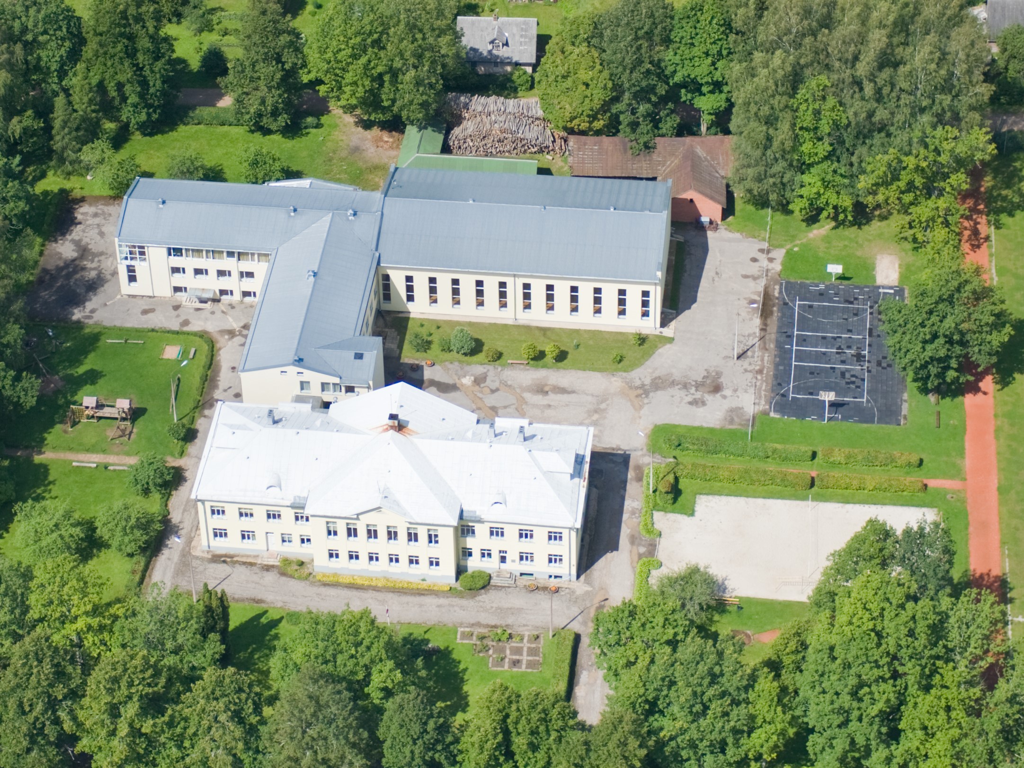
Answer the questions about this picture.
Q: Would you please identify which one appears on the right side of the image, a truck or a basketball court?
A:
basketball court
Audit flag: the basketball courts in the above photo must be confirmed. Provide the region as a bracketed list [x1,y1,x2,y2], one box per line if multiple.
[771,280,907,424]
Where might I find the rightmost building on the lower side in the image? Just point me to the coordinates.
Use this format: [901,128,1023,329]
[191,380,596,588]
